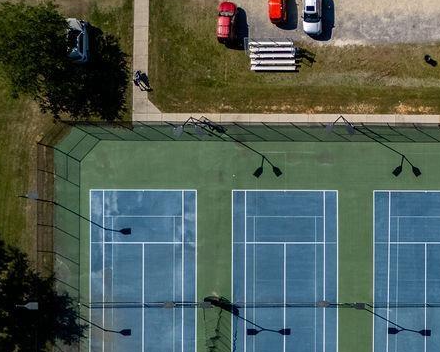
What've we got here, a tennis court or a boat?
tennis court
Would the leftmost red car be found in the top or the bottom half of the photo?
top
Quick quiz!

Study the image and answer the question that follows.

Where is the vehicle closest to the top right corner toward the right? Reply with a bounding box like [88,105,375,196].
[301,0,324,37]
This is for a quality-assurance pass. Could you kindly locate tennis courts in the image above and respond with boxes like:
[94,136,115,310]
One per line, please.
[89,190,197,352]
[231,152,338,352]
[372,191,440,352]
